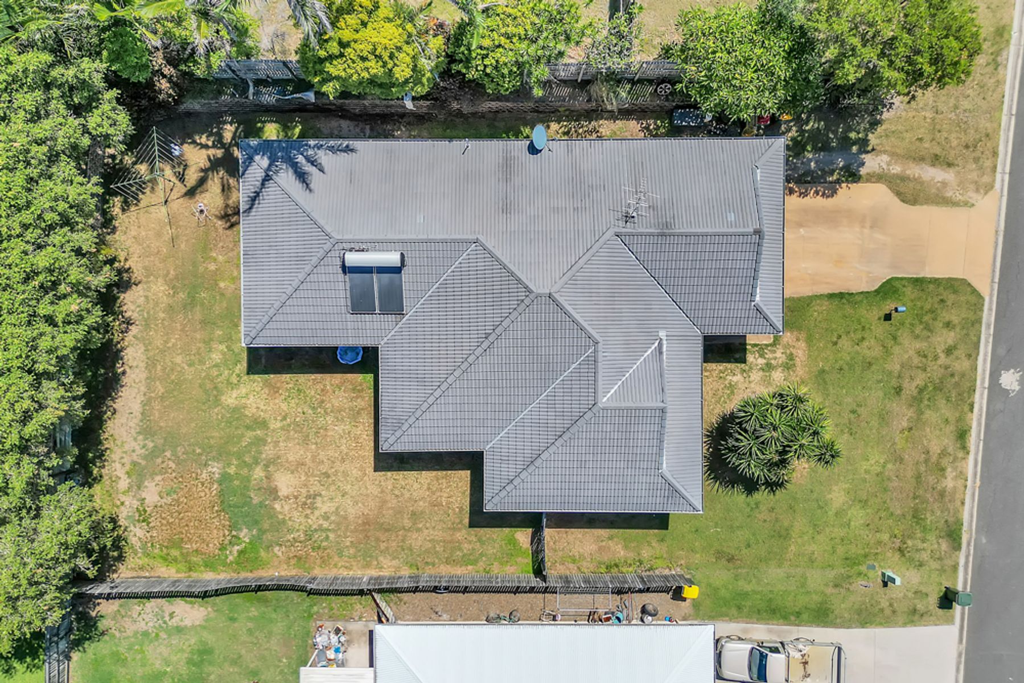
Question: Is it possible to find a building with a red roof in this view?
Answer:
No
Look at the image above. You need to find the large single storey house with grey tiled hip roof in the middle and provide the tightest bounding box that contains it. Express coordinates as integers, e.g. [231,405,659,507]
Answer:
[240,137,785,513]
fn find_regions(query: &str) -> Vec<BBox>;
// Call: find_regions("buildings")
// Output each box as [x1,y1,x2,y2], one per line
[372,616,717,683]
[240,137,785,513]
